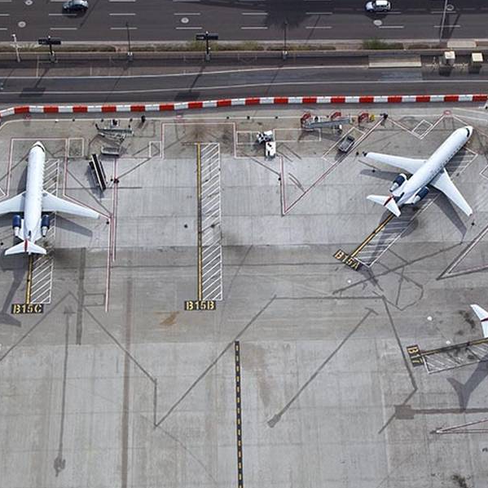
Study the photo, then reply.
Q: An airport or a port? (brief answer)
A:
airport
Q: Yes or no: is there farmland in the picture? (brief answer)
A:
No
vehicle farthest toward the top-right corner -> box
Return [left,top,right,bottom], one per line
[365,0,391,13]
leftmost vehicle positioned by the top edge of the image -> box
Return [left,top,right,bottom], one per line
[62,1,89,13]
